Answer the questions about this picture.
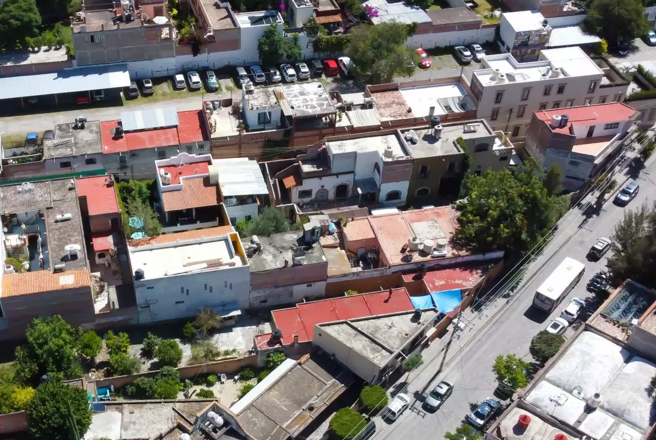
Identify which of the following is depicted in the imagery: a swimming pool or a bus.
bus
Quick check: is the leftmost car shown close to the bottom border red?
No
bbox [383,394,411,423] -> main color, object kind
white car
